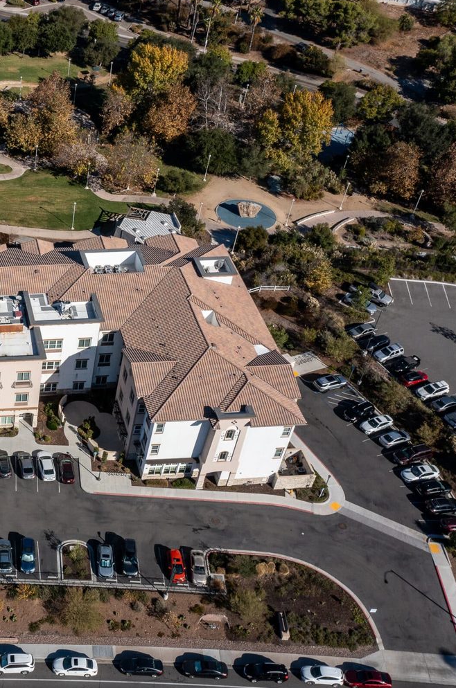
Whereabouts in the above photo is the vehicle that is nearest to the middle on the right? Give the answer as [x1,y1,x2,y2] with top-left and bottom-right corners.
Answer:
[311,375,349,395]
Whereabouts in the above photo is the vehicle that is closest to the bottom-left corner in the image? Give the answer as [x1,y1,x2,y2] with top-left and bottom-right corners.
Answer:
[0,652,35,676]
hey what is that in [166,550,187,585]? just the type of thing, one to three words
car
